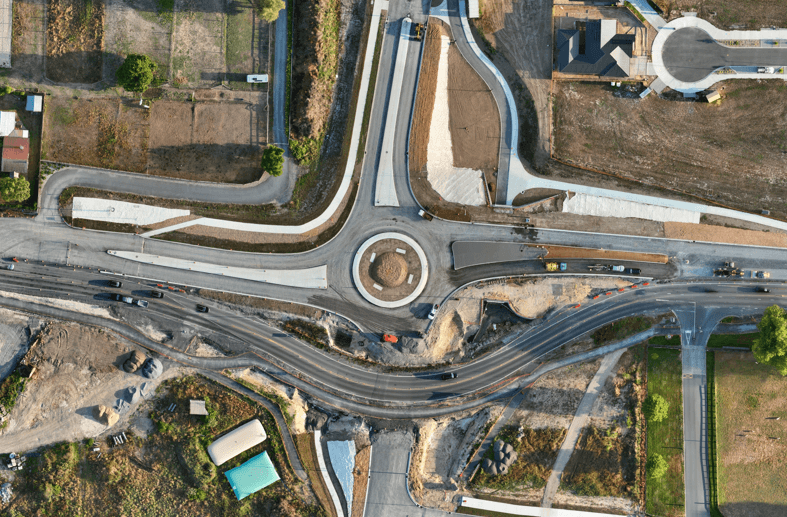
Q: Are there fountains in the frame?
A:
No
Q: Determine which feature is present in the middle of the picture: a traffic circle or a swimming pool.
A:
traffic circle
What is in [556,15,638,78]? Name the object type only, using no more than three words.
house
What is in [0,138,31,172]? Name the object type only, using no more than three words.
house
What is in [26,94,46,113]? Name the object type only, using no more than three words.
shed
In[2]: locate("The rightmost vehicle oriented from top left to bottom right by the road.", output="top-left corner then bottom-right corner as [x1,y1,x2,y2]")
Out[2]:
[417,207,433,222]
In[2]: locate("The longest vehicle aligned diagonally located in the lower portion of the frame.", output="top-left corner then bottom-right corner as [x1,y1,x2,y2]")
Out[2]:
[426,303,440,321]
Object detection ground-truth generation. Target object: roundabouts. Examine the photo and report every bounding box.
[329,209,451,314]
